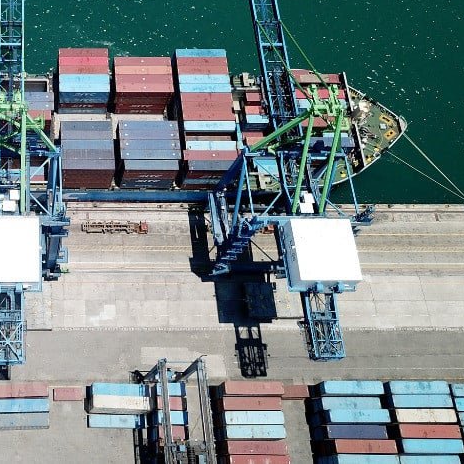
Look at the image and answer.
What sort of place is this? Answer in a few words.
port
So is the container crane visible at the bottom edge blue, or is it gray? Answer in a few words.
gray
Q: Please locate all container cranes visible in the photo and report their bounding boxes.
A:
[141,357,222,464]
[199,0,379,366]
[0,0,81,365]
